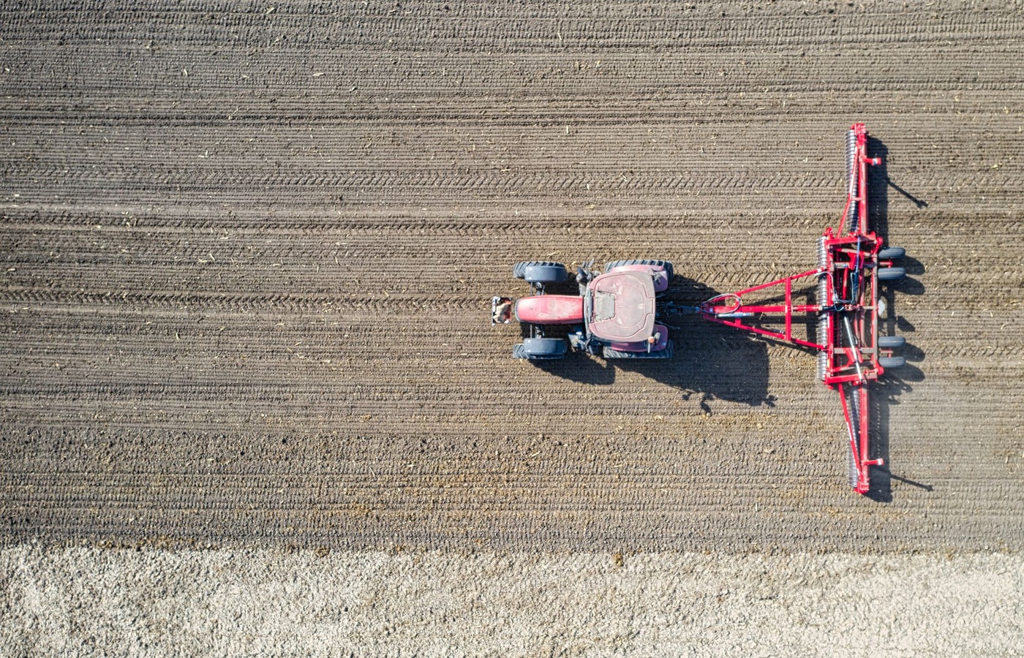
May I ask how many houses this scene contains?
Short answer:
0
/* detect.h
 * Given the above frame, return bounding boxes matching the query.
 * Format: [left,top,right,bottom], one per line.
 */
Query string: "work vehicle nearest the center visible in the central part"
[491,256,707,361]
